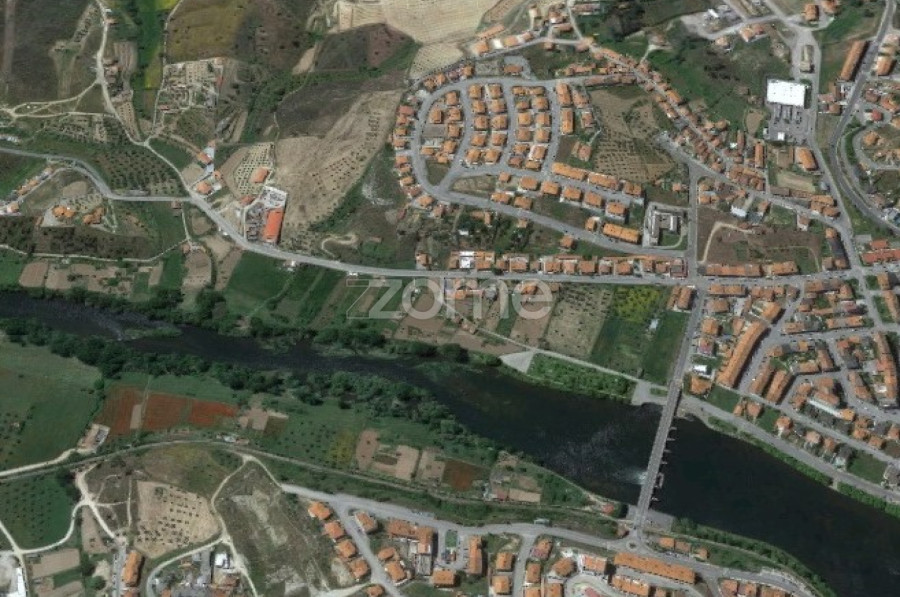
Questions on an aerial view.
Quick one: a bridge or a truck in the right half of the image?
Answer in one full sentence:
Visible in the right half of the image is a bridge.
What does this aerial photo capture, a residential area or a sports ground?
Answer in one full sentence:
What you see here is a residential area.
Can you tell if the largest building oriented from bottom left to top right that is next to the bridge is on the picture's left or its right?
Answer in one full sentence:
It is on the right.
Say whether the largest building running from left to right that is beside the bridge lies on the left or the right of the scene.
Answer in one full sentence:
It is on the right.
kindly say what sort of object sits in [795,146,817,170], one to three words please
house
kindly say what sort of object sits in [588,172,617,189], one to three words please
building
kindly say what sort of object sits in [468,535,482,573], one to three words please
building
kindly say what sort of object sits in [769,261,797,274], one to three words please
house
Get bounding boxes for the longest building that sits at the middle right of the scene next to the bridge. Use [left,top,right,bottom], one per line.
[718,318,768,385]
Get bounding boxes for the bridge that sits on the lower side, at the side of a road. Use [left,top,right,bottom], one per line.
[632,368,685,531]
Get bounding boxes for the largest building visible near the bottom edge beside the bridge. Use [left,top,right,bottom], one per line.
[613,554,694,585]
